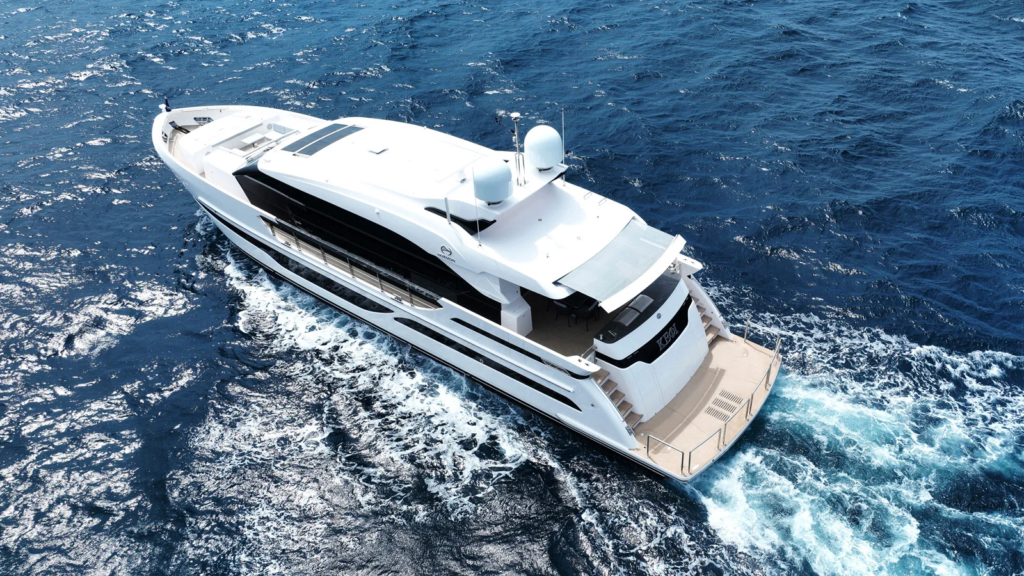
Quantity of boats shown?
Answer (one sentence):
I count 1 boat.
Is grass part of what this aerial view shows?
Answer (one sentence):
No, there is no grass in the image.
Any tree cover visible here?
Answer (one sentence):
No, the picture contains no tree cover.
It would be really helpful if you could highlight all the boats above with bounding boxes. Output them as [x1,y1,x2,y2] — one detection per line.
[152,93,781,486]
